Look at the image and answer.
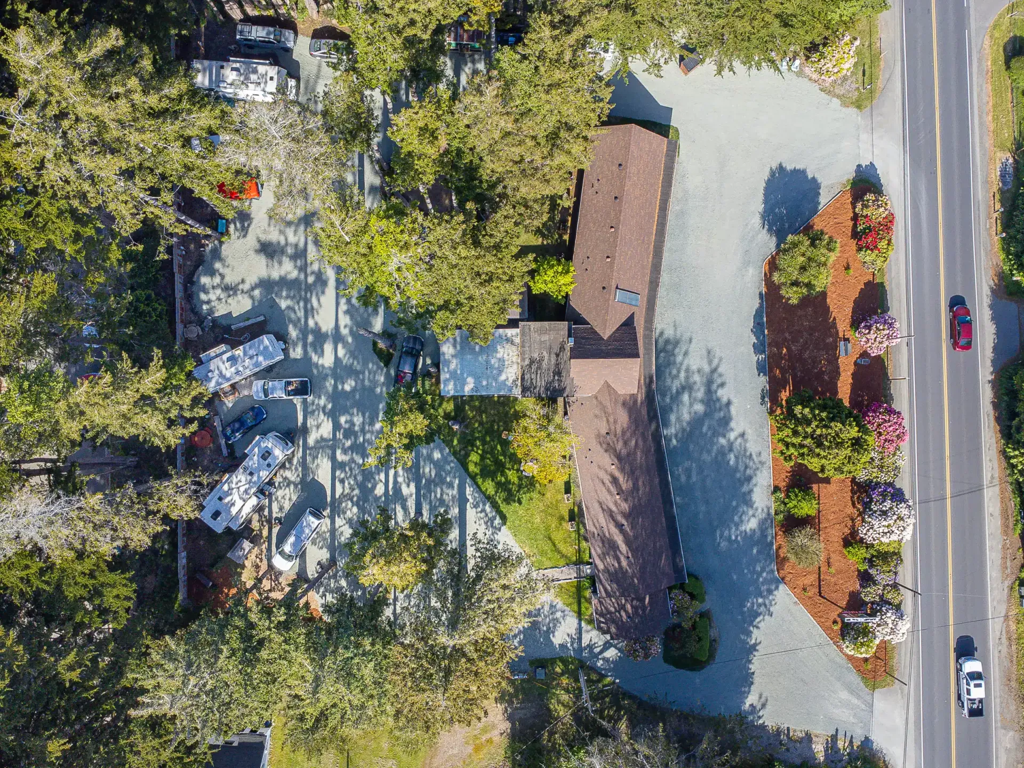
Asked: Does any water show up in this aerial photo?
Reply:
No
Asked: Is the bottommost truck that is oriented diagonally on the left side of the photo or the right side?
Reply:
left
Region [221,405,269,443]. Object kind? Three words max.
car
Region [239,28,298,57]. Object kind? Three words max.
truck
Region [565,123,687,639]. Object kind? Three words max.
building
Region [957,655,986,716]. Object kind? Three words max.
truck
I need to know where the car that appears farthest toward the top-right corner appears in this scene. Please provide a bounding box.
[950,306,975,351]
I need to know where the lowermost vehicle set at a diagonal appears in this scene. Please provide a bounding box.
[271,509,322,571]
